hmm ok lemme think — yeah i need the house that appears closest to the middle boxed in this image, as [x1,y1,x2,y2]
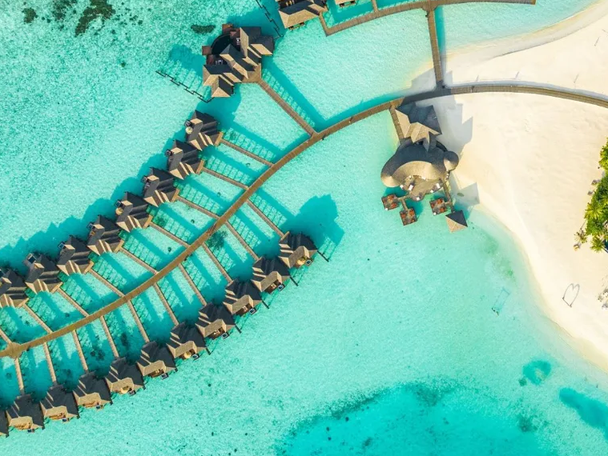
[275,230,322,281]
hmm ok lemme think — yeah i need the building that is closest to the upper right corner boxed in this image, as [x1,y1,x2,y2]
[395,99,443,144]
